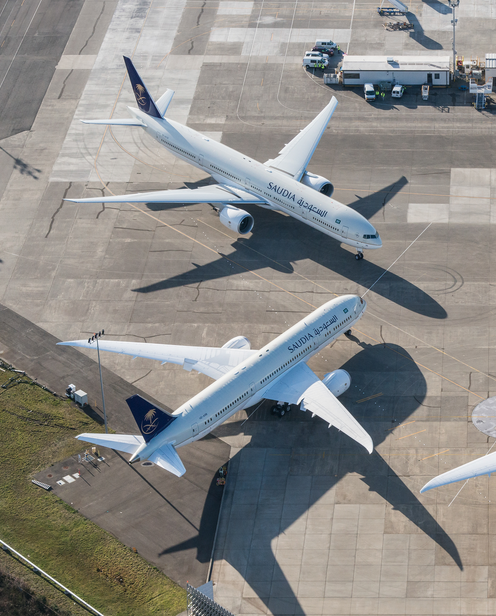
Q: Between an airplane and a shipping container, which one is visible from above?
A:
airplane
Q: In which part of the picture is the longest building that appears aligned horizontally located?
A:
top right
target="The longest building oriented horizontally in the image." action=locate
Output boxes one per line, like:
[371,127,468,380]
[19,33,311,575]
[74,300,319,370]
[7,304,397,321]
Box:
[342,56,454,88]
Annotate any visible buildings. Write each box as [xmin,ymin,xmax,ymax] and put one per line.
[342,56,454,88]
[485,56,496,89]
